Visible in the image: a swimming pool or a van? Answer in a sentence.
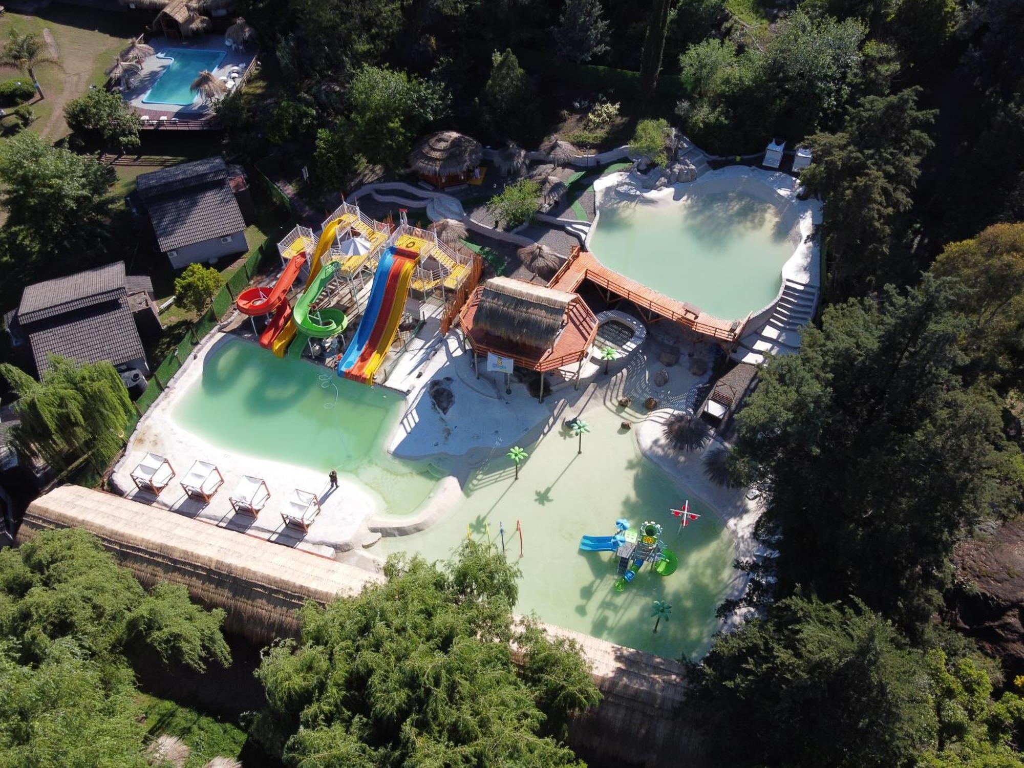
The one in the frame is a swimming pool.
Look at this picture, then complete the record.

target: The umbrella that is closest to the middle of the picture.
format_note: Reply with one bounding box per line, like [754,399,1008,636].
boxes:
[512,241,565,289]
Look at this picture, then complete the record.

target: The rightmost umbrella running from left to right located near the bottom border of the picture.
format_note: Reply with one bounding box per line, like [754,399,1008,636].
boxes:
[203,739,265,768]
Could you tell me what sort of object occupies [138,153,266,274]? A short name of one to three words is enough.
house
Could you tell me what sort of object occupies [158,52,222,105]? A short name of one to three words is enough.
swimming pool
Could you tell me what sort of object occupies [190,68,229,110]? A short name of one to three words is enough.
umbrella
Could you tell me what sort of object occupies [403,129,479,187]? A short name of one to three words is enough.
shed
